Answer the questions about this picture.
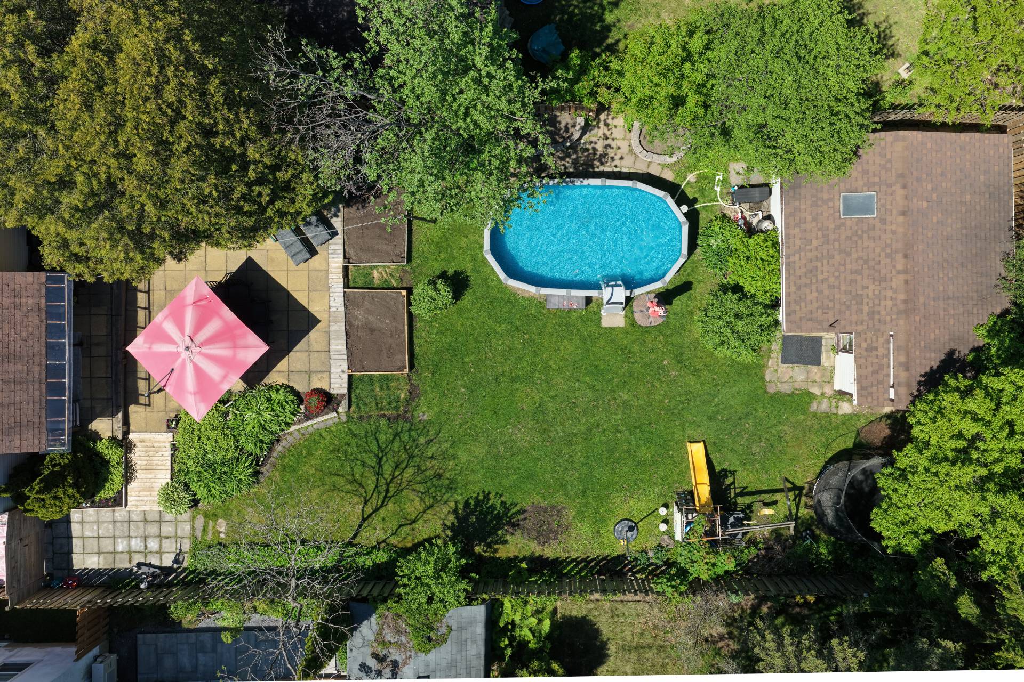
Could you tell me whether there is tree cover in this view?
Yes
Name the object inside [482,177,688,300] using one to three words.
swimming pool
